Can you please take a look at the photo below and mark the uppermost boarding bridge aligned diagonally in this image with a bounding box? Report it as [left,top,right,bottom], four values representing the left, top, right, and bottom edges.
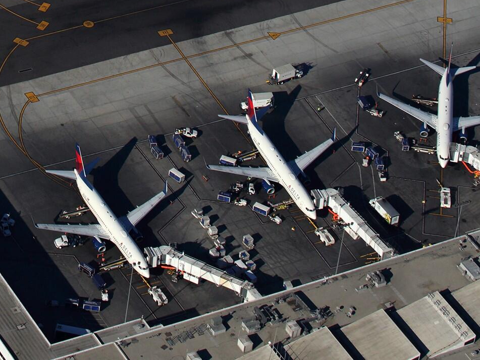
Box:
[319,189,396,261]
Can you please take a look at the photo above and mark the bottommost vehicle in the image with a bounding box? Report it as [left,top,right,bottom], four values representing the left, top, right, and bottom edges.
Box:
[48,315,99,337]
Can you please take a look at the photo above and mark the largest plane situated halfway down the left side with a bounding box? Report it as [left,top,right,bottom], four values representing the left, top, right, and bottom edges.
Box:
[36,147,170,281]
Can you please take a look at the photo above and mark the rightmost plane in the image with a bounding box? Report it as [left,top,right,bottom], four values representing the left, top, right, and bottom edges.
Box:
[377,46,480,171]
